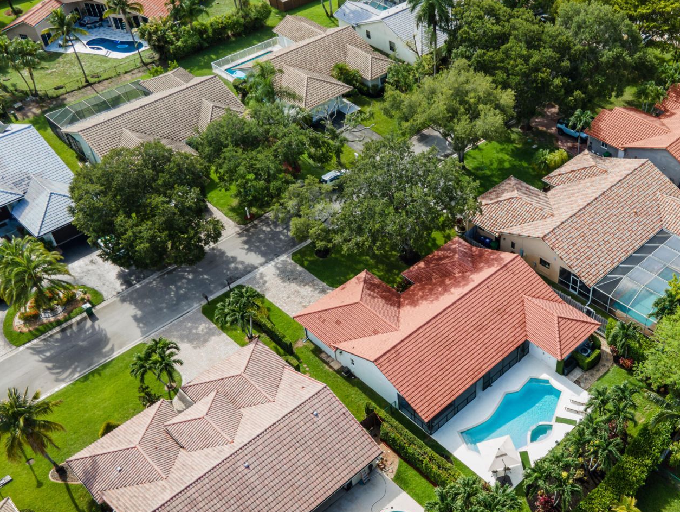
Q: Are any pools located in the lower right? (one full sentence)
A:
Yes, a pool can be seen in the lower right.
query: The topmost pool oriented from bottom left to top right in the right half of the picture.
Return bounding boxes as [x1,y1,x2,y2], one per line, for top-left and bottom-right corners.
[607,264,680,326]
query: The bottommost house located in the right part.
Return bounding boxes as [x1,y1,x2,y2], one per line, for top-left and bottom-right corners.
[292,236,603,436]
